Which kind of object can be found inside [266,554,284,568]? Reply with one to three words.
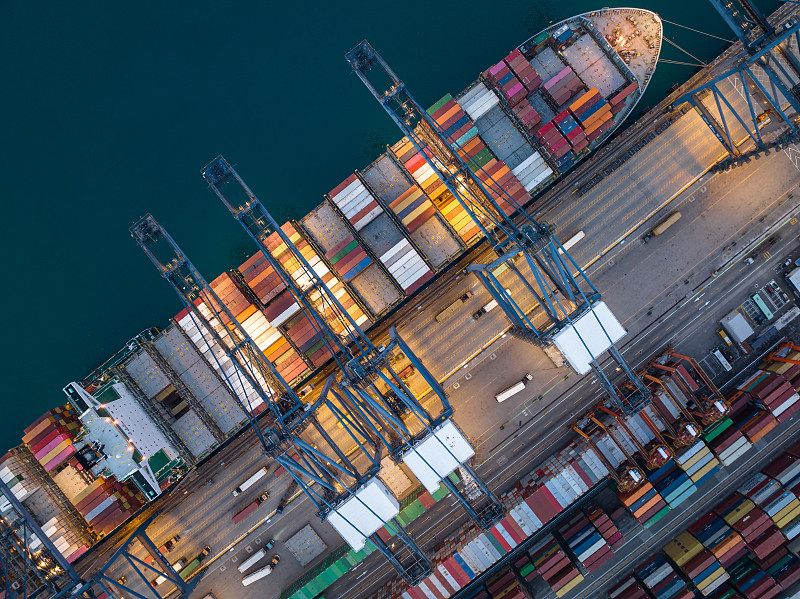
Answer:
vehicle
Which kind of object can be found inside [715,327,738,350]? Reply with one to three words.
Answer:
bus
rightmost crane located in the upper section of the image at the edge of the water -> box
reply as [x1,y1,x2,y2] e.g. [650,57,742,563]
[661,0,800,180]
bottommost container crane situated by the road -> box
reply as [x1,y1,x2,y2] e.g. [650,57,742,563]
[0,480,213,599]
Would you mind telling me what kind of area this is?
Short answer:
port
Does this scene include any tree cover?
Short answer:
No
